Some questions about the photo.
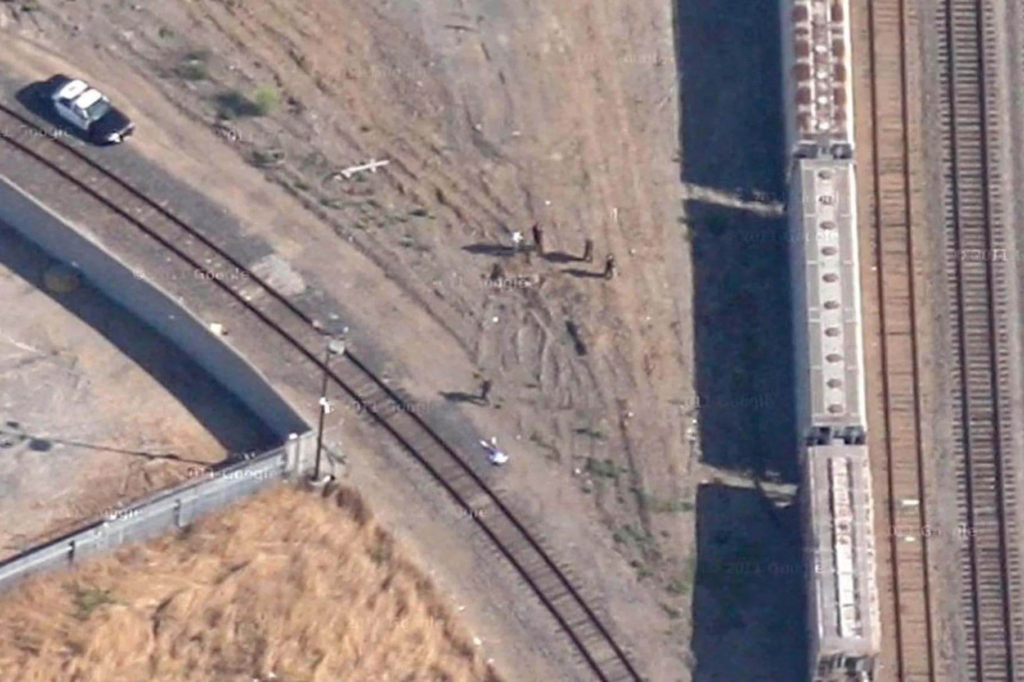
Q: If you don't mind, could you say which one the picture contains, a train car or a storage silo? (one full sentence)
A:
Visible in the photo is a train car.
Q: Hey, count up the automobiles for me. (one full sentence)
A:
The picture shows 1 automobile.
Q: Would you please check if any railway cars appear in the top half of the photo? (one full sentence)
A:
Yes, you'll find a railway car in the top half of the photo.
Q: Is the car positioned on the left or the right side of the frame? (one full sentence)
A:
The car appears in the left half of the scene.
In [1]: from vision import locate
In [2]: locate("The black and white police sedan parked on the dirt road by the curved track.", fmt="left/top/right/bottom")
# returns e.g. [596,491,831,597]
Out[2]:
[33,69,133,144]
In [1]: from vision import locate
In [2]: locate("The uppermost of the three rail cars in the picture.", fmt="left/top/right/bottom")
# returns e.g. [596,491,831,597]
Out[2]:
[783,0,854,192]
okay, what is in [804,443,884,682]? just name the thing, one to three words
rail car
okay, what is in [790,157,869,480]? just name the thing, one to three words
rail car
